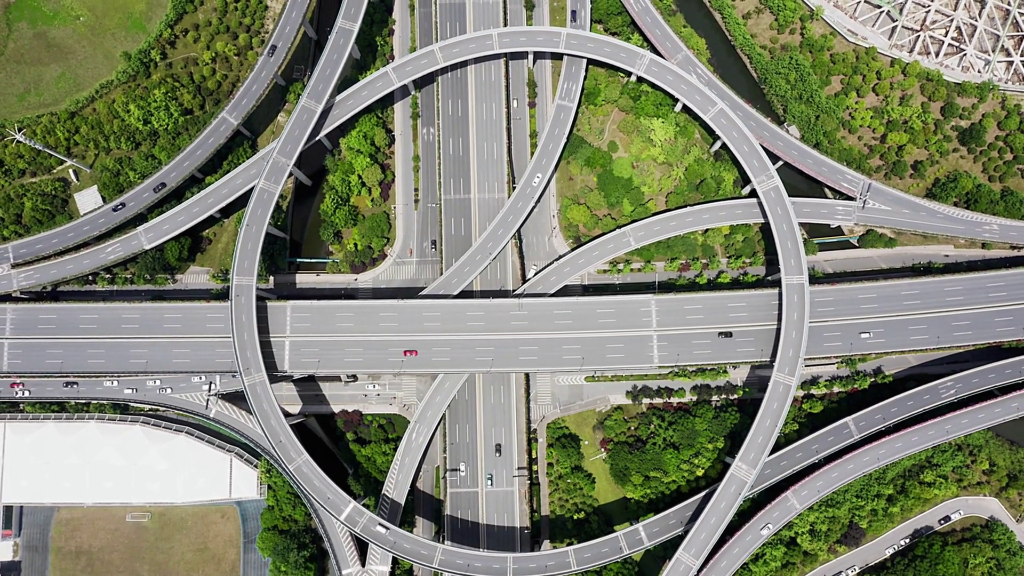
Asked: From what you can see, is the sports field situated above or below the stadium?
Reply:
below it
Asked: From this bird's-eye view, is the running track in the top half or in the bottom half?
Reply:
bottom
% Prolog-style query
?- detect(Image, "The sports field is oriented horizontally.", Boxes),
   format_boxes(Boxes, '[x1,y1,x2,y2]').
[50,506,242,576]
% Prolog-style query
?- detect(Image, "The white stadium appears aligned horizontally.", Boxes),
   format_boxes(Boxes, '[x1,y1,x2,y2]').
[0,412,268,504]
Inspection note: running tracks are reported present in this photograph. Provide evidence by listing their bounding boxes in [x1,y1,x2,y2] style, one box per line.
[17,491,267,576]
